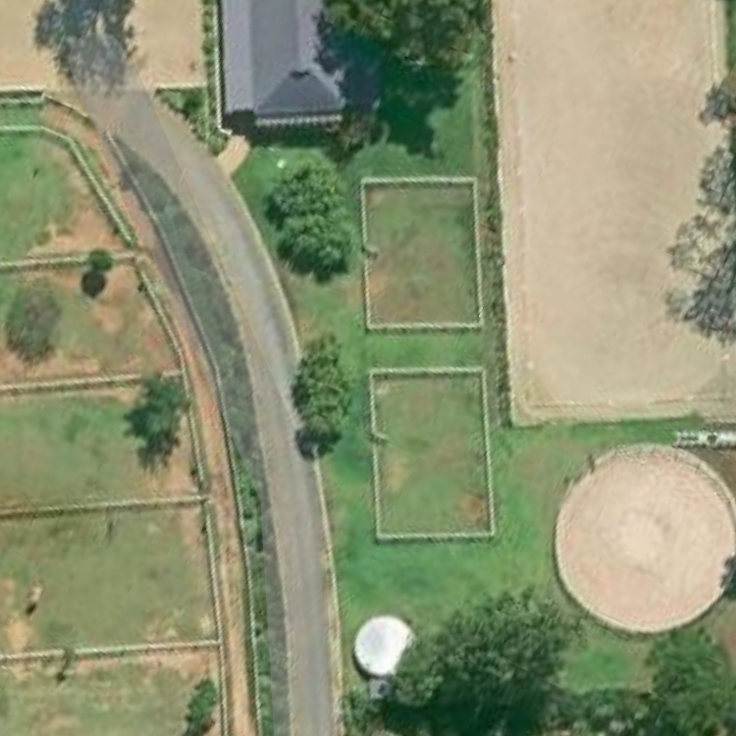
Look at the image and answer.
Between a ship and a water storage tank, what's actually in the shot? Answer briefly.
water storage tank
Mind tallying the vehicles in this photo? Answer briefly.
0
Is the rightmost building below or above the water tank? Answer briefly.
below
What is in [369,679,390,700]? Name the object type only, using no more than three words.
building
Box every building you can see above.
[369,679,390,700]
[222,0,346,126]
